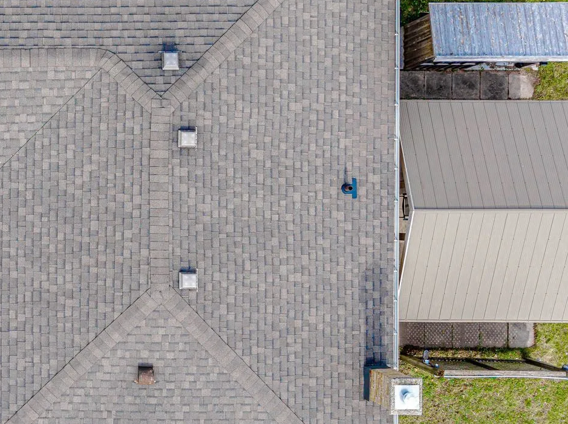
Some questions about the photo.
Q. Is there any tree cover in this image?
No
